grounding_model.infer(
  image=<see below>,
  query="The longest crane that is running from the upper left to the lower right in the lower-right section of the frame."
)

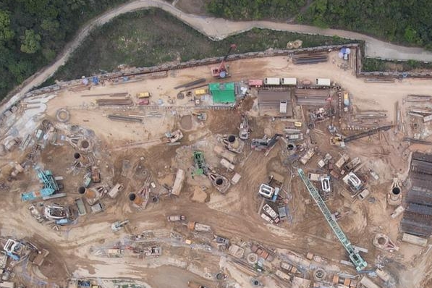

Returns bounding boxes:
[299,169,372,276]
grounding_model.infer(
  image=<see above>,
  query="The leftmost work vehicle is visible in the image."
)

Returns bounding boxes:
[110,219,131,234]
